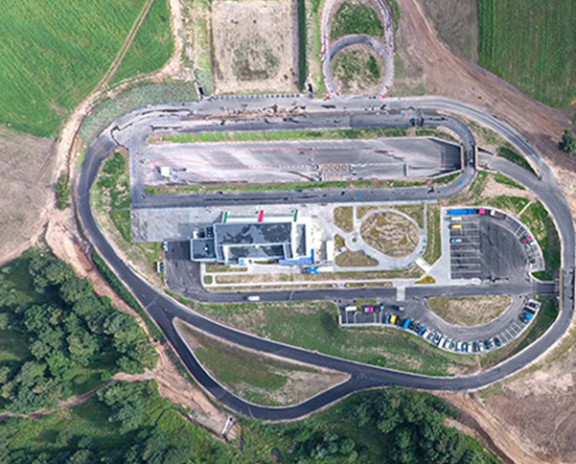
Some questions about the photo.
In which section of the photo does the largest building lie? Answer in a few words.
center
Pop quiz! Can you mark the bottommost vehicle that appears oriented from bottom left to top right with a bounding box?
[220,419,232,435]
